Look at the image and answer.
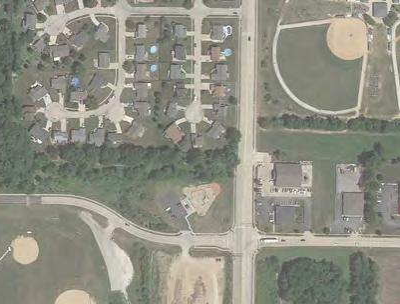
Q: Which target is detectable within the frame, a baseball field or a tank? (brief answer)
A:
baseball field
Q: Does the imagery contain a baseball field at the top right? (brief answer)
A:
Yes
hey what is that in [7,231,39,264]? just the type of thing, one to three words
baseball field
